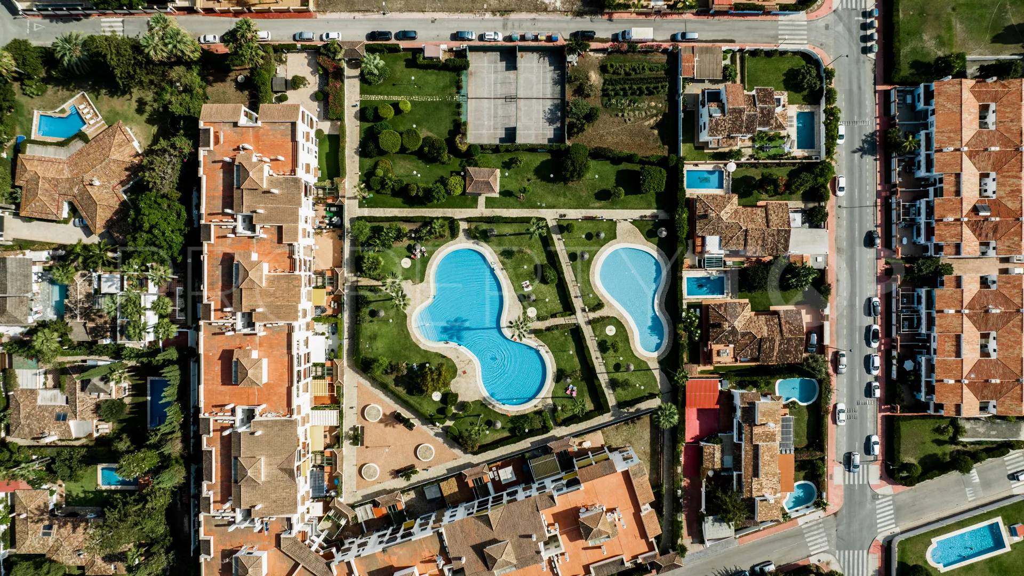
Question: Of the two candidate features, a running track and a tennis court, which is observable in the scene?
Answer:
tennis court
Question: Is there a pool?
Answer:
Yes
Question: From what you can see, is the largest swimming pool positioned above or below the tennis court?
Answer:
below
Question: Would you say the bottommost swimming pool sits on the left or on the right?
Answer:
right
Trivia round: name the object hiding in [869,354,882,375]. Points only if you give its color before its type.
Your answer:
white vehicle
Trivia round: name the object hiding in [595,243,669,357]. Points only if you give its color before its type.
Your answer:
blue swimming pool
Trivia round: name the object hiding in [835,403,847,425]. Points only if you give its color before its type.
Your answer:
white vehicle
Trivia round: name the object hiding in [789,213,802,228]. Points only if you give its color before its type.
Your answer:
white gazebo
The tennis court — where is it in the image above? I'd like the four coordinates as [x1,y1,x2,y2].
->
[469,51,565,144]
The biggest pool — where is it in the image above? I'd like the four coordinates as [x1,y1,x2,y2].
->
[413,244,551,410]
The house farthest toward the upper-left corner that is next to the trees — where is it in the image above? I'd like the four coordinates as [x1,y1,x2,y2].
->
[16,120,145,238]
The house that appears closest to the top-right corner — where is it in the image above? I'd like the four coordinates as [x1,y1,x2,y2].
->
[909,79,1024,257]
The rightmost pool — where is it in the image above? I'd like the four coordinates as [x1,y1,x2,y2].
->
[925,516,1011,573]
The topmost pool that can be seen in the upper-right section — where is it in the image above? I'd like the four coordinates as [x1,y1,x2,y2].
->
[795,110,817,150]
